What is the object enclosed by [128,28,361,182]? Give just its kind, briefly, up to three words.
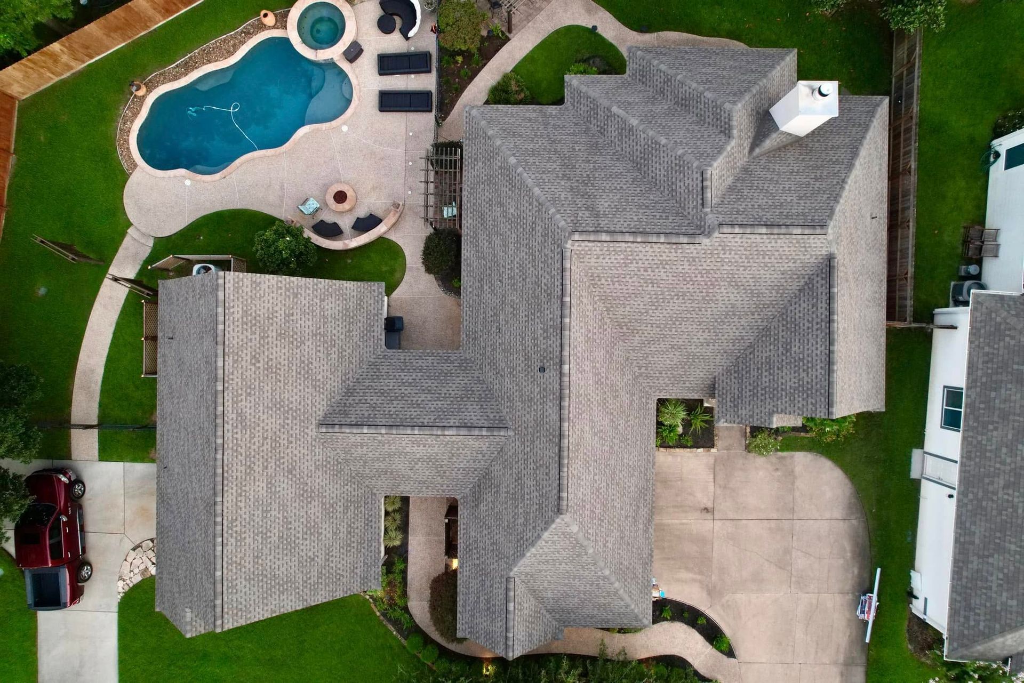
swimming pool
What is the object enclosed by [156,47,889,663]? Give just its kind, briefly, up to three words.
house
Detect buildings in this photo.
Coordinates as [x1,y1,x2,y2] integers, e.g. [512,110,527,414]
[156,47,889,663]
[914,116,1024,683]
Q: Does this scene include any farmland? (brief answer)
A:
No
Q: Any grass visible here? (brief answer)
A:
Yes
